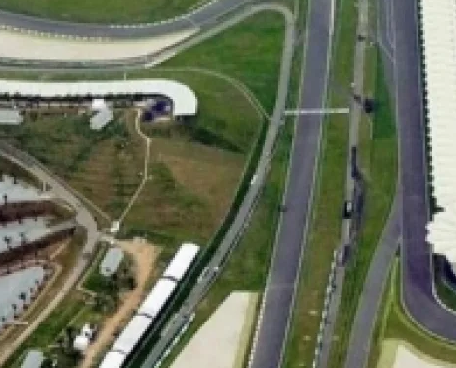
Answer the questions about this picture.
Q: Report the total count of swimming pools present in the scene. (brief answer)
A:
0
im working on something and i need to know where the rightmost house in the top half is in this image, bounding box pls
[90,105,112,131]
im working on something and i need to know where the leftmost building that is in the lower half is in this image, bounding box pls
[20,348,43,368]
